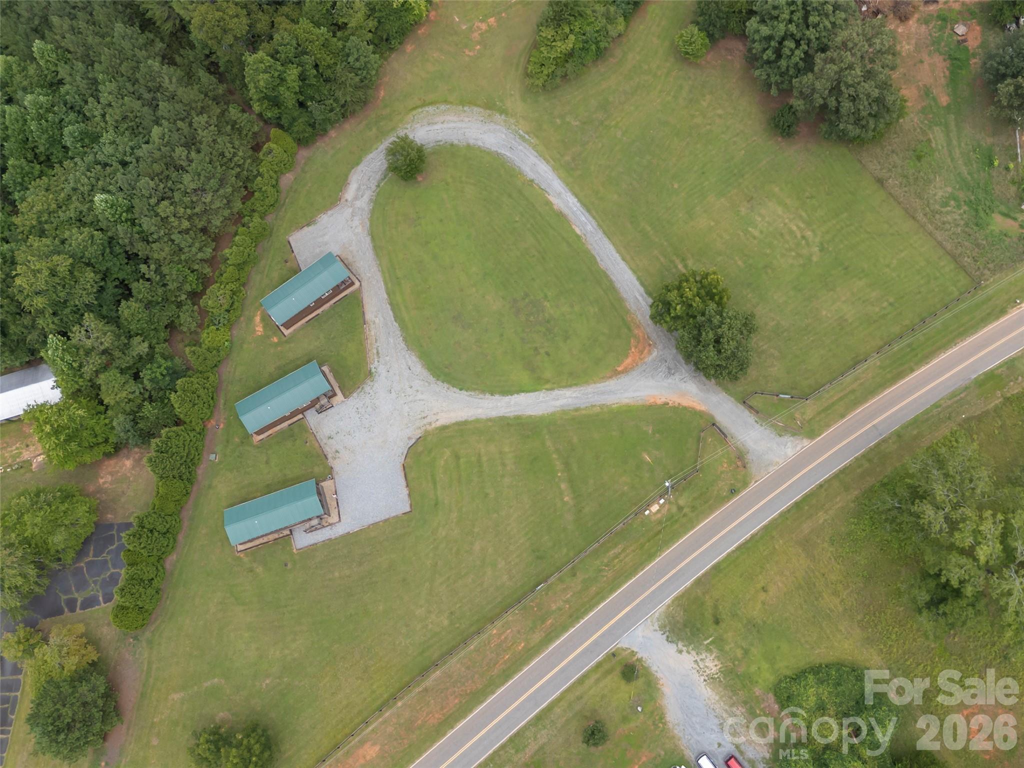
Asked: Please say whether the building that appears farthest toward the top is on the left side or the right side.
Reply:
left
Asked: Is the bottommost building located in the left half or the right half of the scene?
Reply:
left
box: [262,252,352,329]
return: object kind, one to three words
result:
building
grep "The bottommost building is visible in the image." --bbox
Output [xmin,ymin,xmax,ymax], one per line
[225,479,327,546]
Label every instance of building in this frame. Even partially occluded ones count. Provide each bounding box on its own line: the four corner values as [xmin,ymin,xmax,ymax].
[0,364,71,419]
[262,252,352,329]
[237,361,335,435]
[225,479,327,546]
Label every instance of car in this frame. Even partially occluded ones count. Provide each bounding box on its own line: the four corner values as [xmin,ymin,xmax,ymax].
[696,751,720,768]
[725,751,749,768]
